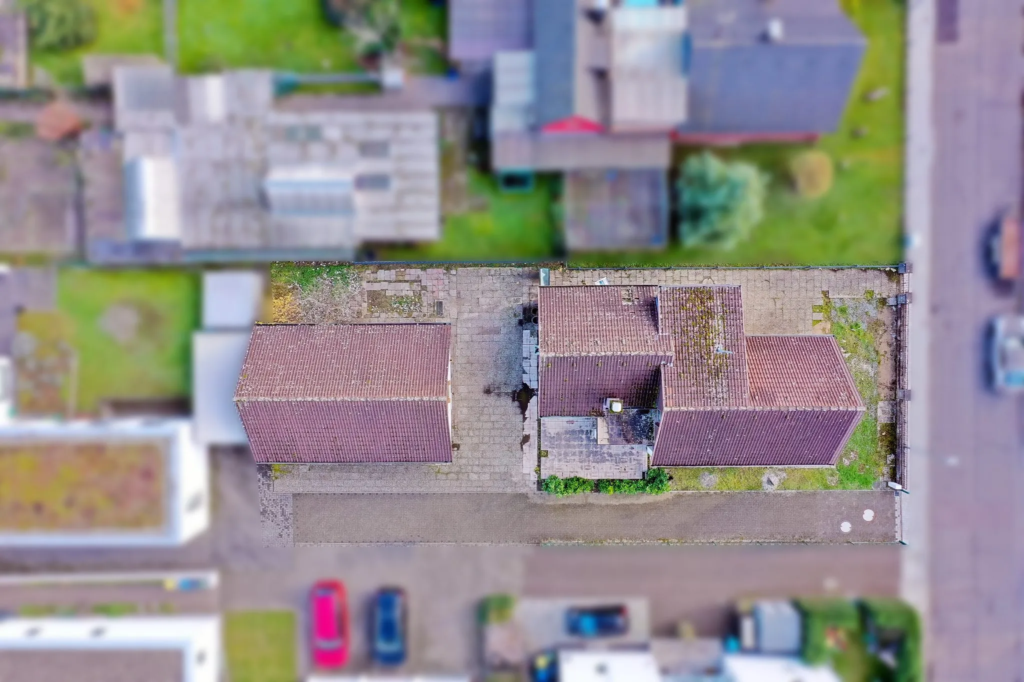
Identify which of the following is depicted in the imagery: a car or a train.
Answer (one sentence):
The image shows a car.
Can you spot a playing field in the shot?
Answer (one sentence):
No, the frame has no playing field in it.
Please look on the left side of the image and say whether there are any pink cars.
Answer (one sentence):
Yes, a pink car shows up on the left side of the image.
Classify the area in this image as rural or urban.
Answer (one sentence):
It looks urban.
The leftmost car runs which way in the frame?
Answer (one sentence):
The leftmost car is laid out from top to bottom.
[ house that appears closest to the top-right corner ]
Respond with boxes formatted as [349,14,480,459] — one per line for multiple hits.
[671,3,868,144]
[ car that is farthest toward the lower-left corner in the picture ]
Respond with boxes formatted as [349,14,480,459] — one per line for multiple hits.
[302,582,347,673]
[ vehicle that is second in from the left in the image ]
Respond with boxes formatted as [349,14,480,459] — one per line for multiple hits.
[367,589,408,670]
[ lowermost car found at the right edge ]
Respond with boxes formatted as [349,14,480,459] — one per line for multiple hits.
[986,315,1024,396]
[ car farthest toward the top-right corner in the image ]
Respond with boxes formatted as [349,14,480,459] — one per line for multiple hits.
[981,207,1024,293]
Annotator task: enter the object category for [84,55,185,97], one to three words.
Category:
shed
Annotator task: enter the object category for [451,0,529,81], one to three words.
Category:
building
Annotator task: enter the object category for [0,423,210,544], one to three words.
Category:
house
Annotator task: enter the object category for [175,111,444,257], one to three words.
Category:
building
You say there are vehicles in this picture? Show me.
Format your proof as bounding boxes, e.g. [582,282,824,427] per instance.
[566,605,629,645]
[367,589,408,670]
[986,315,1024,396]
[302,582,347,673]
[981,207,1024,293]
